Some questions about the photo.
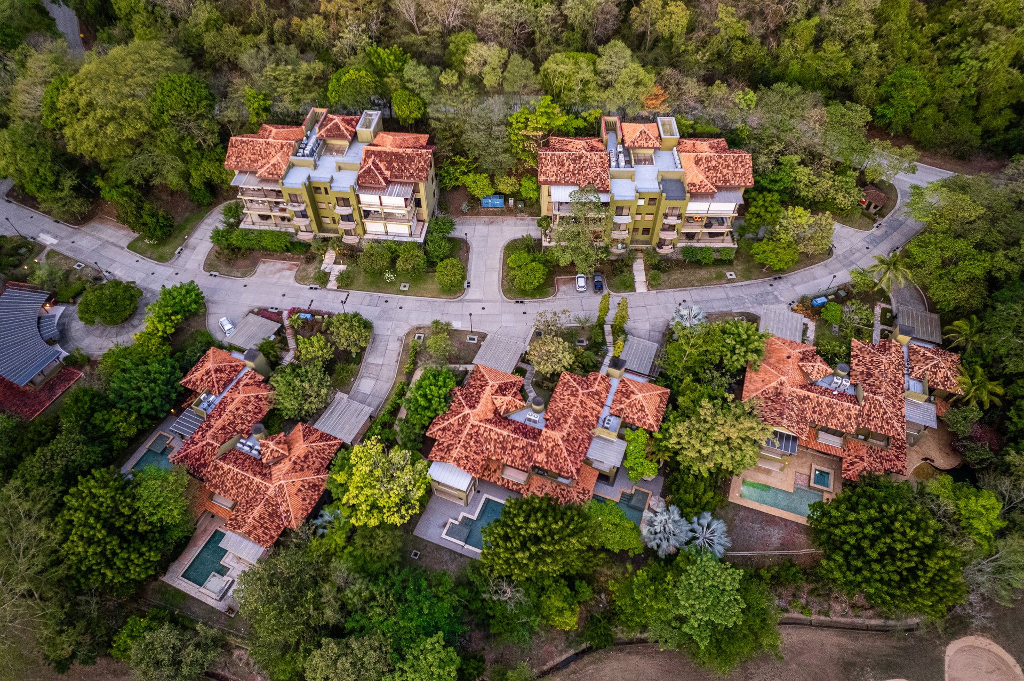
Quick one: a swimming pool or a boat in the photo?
swimming pool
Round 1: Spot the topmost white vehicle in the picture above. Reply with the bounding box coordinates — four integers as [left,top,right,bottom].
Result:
[575,273,588,291]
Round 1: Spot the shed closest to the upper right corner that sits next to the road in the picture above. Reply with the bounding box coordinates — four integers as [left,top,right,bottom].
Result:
[862,185,893,215]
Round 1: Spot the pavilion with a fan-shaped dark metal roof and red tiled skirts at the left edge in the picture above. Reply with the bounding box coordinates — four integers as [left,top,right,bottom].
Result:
[0,280,84,409]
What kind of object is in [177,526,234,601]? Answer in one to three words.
swimming pool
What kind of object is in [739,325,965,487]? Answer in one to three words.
house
